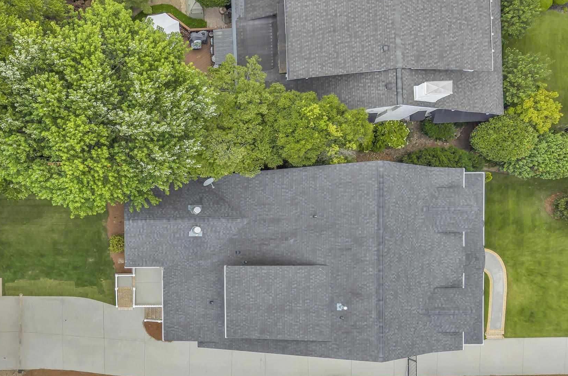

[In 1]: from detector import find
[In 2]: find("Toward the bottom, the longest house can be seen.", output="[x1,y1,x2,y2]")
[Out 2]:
[124,161,488,362]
